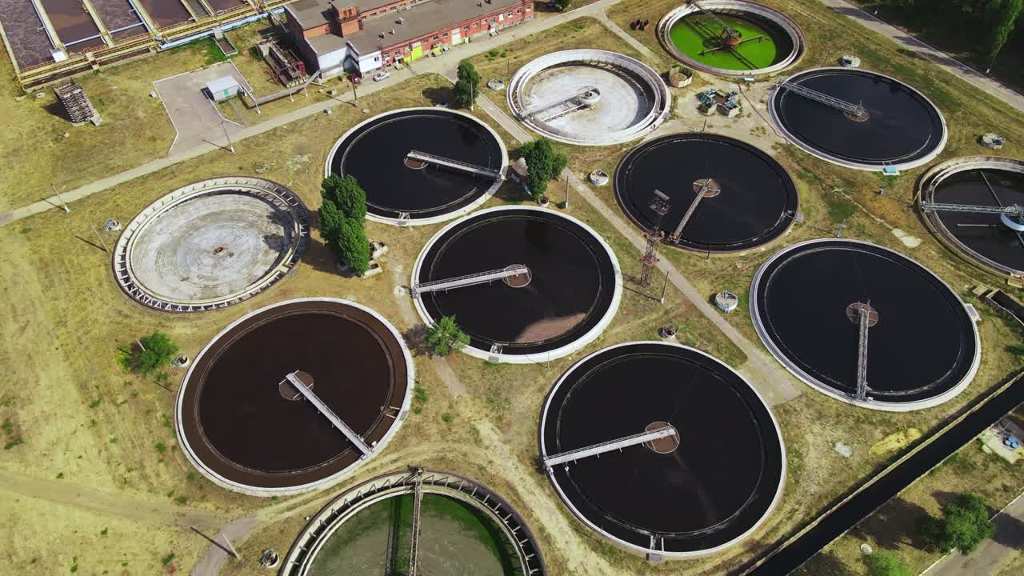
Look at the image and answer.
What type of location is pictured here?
industrial area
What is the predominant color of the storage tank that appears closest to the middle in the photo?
black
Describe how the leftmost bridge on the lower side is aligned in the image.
at an angle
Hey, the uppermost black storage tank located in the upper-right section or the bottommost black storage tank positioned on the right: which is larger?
the bottommost black storage tank positioned on the right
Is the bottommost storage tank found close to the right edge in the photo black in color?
Yes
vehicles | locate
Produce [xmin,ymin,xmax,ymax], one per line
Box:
[348,73,361,84]
[373,70,391,81]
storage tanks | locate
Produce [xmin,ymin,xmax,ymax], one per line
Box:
[325,109,508,229]
[412,207,622,366]
[768,68,947,177]
[749,240,982,414]
[176,299,415,499]
[507,50,672,149]
[917,155,1024,293]
[657,0,805,81]
[614,131,806,256]
[541,342,784,568]
[113,176,310,314]
[278,466,548,576]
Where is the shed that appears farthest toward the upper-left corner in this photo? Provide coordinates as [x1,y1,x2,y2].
[209,78,237,101]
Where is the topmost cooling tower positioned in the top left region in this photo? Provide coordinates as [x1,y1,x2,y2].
[56,81,102,126]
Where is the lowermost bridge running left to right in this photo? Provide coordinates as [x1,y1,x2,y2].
[544,427,676,469]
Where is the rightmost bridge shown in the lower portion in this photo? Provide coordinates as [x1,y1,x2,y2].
[853,298,872,402]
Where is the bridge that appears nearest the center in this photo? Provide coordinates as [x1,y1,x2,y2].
[415,267,527,295]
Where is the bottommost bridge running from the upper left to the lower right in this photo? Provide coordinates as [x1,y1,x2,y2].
[284,370,375,459]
